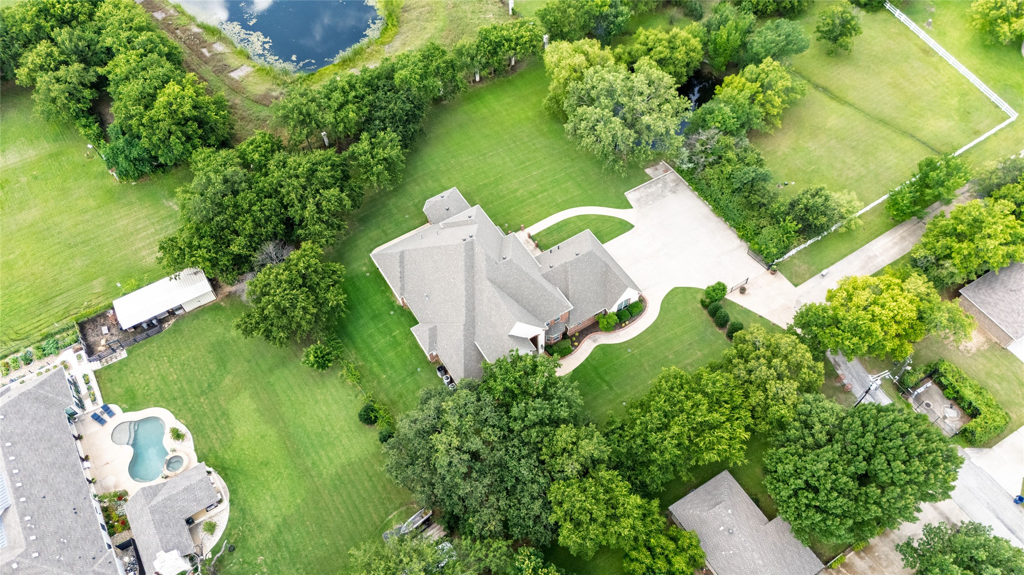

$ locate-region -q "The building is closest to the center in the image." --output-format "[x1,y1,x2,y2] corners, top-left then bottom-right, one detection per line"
[369,187,644,403]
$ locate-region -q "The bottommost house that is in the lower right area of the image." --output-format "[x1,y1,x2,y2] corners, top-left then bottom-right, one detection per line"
[667,469,827,575]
